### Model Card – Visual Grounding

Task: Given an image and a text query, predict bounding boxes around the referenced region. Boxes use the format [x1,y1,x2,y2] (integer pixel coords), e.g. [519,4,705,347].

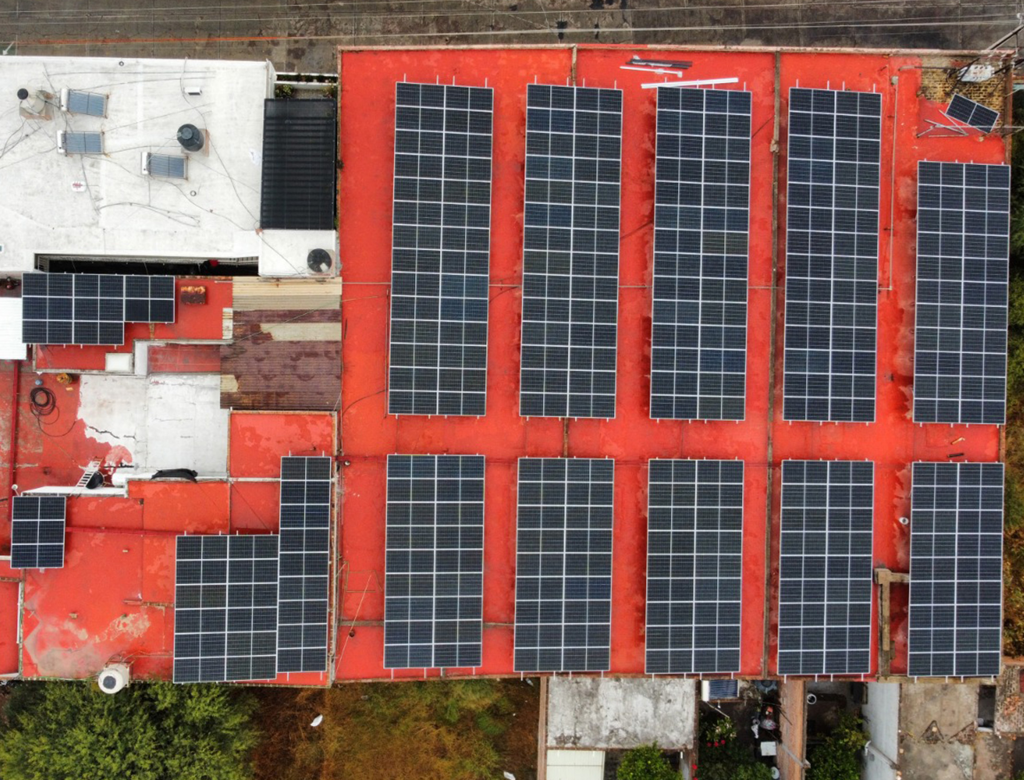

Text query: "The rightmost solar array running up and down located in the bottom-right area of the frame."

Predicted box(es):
[905,460,1005,683]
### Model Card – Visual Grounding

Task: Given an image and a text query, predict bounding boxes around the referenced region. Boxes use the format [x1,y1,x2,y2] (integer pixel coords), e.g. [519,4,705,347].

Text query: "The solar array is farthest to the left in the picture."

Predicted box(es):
[11,496,70,569]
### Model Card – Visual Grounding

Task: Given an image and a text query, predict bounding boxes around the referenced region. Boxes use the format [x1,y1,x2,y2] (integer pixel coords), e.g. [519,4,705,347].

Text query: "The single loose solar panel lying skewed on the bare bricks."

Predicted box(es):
[945,93,998,135]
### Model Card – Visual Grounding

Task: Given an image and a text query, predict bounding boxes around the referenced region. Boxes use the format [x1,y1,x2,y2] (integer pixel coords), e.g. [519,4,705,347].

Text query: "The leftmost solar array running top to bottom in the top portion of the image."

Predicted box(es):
[388,73,493,420]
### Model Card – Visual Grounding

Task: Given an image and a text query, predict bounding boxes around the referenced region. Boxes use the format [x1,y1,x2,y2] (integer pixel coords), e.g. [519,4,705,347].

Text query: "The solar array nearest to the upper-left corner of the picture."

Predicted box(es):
[22,271,175,351]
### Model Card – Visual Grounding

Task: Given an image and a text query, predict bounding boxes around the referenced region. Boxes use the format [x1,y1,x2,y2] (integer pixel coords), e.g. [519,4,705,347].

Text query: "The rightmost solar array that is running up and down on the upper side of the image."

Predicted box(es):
[909,158,1011,428]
